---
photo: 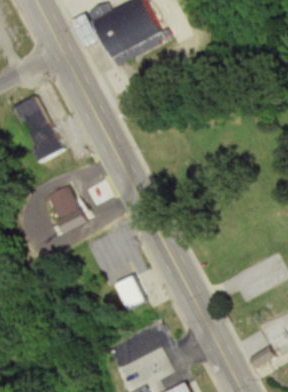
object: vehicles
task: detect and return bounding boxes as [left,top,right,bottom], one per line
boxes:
[126,372,140,381]
[96,187,102,198]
